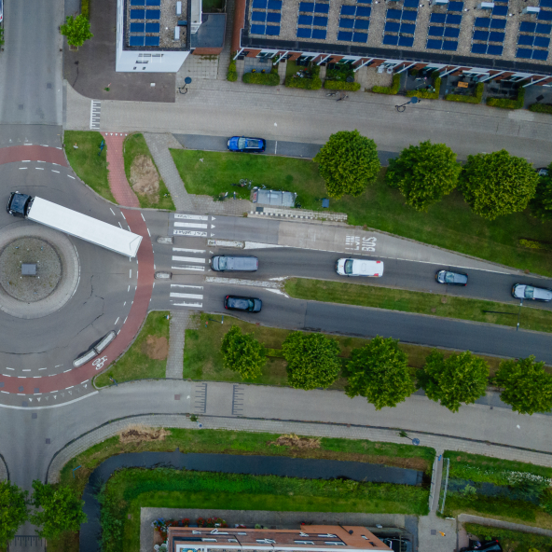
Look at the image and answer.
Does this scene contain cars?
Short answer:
Yes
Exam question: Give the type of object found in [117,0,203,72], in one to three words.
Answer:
building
